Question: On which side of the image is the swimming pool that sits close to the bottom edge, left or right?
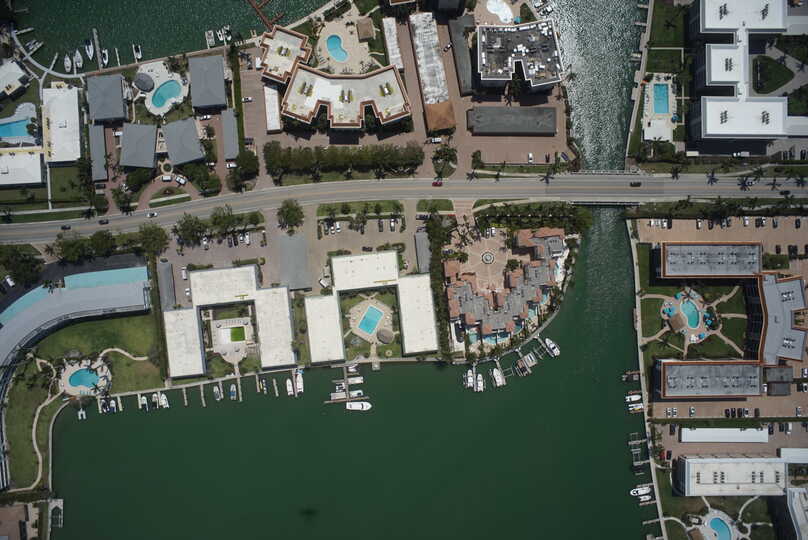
right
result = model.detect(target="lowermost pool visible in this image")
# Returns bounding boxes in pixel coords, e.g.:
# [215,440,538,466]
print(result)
[709,516,733,540]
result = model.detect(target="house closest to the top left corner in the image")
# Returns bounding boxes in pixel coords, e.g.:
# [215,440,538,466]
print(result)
[0,58,34,99]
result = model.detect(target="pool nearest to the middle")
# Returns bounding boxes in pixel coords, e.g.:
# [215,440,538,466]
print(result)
[357,304,384,336]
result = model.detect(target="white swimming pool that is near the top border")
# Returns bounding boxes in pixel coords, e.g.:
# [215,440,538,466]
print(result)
[486,0,513,23]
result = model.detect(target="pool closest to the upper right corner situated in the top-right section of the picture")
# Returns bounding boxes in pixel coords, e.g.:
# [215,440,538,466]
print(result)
[653,82,669,114]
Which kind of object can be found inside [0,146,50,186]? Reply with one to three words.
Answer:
building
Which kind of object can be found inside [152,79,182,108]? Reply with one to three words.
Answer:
swimming pool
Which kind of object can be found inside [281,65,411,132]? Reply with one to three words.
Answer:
building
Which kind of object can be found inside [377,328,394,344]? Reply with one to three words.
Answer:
gazebo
